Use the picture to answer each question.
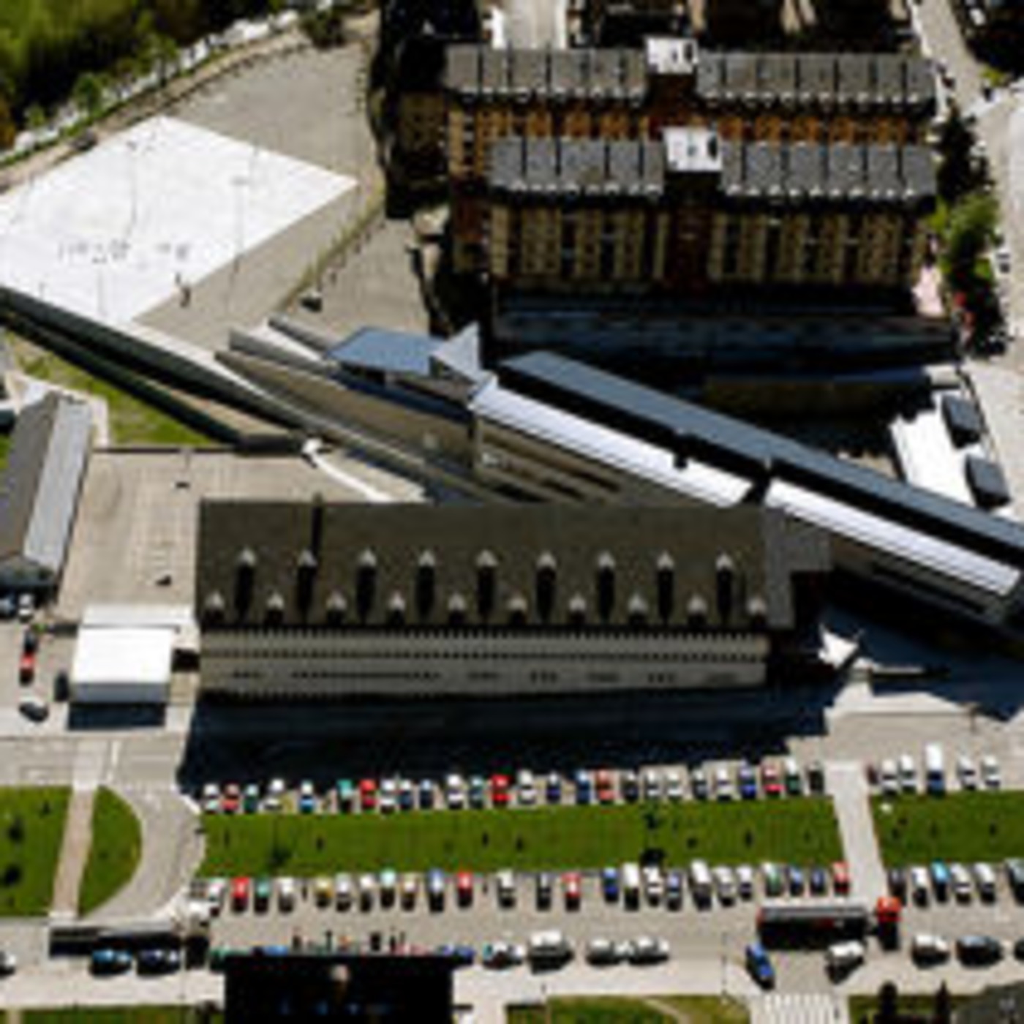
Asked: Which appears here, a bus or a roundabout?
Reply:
bus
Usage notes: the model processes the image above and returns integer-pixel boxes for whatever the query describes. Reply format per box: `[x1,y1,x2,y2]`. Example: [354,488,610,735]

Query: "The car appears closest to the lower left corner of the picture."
[0,947,23,968]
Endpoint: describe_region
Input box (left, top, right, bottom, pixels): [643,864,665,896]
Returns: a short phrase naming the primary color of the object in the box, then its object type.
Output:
white car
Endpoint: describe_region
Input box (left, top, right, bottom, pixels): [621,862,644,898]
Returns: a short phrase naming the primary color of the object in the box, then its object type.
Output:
white vehicle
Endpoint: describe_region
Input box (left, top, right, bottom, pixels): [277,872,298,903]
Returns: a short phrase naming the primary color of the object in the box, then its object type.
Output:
white car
